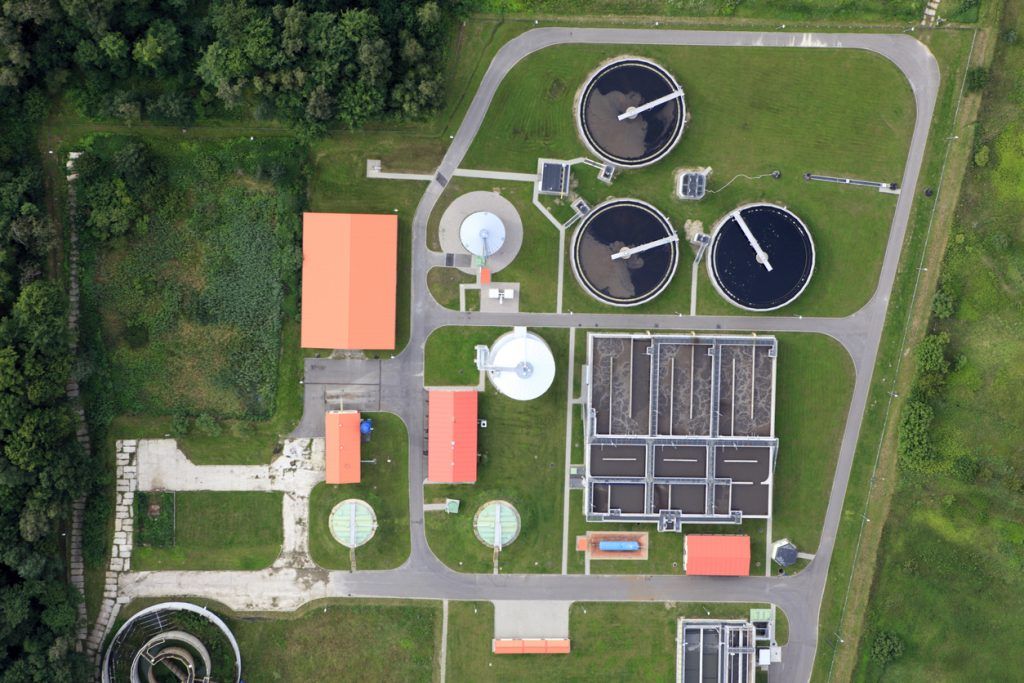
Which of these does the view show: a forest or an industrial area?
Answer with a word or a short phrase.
industrial area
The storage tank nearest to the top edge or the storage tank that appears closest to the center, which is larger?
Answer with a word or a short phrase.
the storage tank nearest to the top edge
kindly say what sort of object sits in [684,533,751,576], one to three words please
house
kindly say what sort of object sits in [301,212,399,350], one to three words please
building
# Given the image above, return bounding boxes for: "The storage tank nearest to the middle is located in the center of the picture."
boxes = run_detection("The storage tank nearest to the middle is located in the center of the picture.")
[488,327,556,400]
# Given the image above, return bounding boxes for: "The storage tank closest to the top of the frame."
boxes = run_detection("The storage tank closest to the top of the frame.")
[577,56,687,166]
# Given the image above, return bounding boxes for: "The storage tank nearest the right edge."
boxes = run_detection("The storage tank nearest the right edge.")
[707,202,817,311]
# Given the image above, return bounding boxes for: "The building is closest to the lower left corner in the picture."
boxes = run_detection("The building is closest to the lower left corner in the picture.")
[325,396,362,485]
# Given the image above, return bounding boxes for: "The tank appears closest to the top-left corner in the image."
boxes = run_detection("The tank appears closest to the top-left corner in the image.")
[459,211,505,260]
